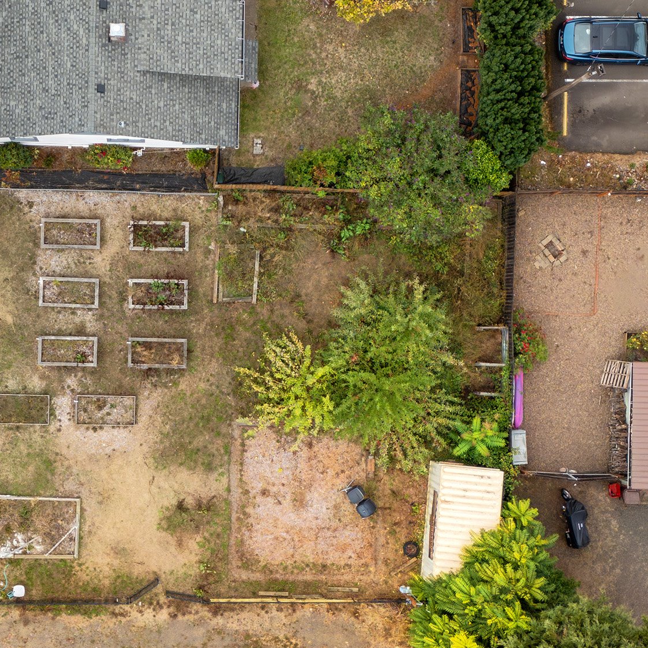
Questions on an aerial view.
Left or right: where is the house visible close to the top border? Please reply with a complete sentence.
The house visible close to the top border sits on the left side.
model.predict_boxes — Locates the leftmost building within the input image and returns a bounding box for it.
[0,0,259,155]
